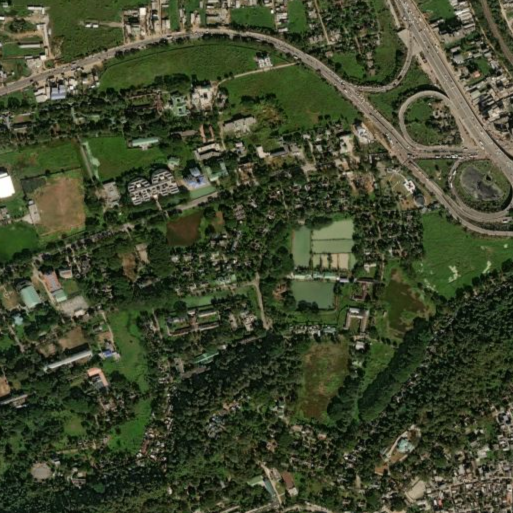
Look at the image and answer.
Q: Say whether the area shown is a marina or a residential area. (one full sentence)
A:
What you see here is a residential area.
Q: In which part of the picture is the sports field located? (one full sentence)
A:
The sports field sits in the left section of the image.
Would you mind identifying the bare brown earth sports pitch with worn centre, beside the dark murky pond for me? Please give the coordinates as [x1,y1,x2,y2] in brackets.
[38,175,85,236]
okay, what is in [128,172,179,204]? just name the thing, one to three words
building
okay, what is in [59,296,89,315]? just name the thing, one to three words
building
